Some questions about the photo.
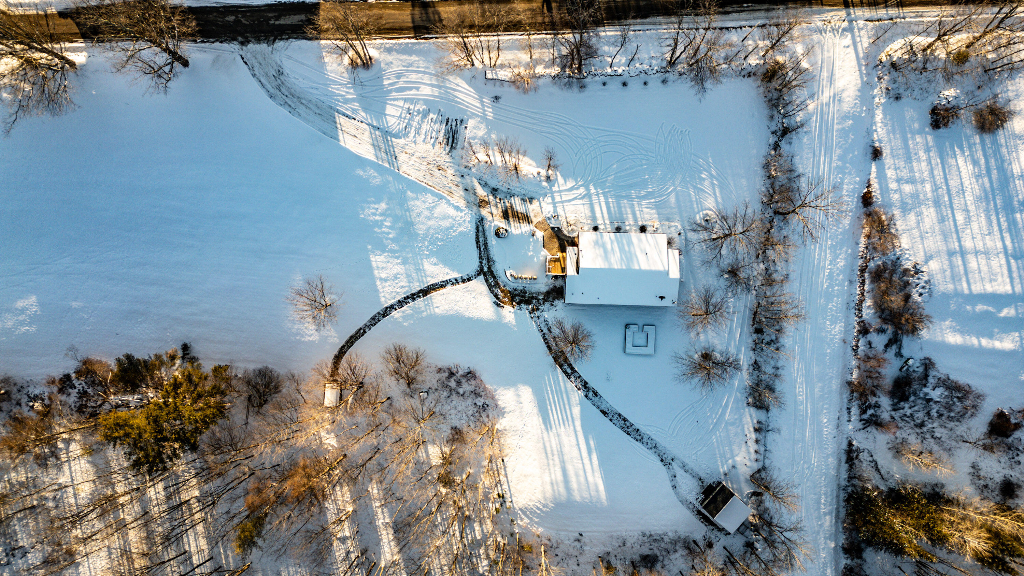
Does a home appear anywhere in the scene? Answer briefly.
Yes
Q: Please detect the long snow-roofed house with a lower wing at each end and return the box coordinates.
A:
[564,231,681,307]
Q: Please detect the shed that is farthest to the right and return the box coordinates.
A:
[692,476,753,535]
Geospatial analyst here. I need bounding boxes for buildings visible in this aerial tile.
[564,231,681,307]
[324,384,340,406]
[692,476,753,535]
